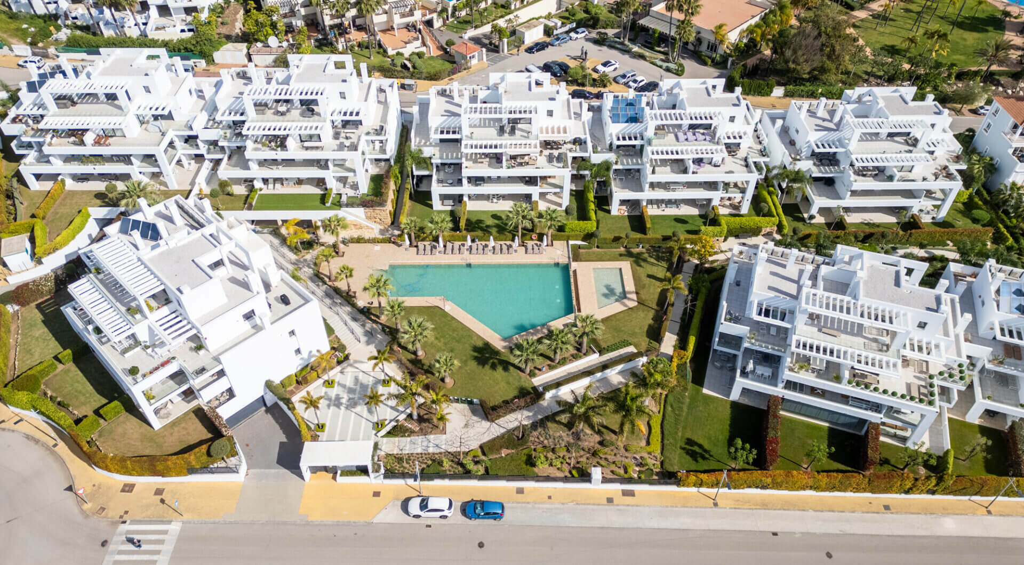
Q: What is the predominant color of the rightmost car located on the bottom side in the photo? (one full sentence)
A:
From above, the rightmost car located on the bottom side appears blue.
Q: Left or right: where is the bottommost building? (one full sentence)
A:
The bottommost building sits on the left side.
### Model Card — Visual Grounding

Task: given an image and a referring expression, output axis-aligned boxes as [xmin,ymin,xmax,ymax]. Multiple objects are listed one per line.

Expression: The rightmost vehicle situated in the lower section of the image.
[463,499,505,523]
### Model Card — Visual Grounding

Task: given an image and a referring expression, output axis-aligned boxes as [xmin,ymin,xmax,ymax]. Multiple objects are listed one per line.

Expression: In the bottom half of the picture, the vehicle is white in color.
[407,495,454,521]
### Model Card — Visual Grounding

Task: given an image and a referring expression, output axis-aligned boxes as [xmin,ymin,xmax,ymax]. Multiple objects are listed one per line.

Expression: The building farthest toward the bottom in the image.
[299,440,377,482]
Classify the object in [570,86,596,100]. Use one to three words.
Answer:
car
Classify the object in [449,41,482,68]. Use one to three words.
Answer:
building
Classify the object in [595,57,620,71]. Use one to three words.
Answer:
car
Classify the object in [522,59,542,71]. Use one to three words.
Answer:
vehicle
